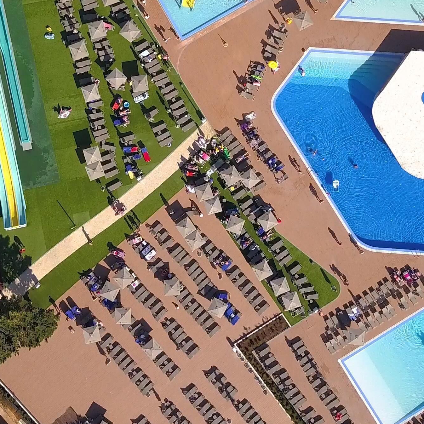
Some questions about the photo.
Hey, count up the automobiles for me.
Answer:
zero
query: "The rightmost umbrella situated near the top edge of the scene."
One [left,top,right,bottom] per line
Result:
[289,8,315,33]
